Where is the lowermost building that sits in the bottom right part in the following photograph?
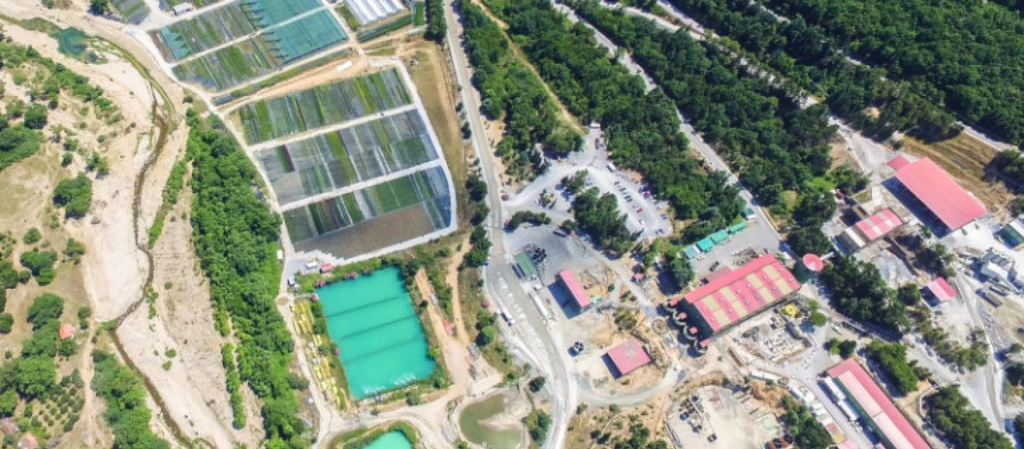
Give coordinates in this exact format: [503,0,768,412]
[828,357,940,449]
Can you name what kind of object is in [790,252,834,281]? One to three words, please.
storage tank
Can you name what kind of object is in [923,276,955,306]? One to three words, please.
building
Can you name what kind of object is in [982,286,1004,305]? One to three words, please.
vehicle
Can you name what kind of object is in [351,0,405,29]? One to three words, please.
greenhouse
